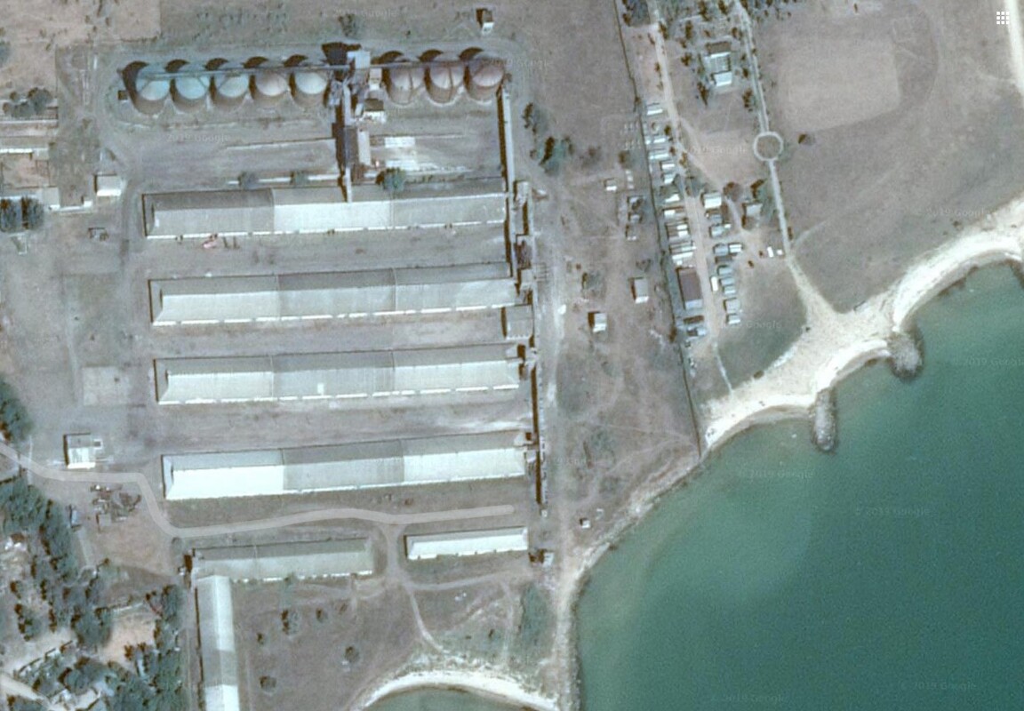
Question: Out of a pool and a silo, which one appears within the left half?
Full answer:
You can see a silo within the left half.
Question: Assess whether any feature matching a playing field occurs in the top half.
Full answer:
Yes, a playing field shows up in the top half.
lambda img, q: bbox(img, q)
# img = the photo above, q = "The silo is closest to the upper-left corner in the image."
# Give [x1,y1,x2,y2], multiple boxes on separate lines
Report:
[135,67,172,114]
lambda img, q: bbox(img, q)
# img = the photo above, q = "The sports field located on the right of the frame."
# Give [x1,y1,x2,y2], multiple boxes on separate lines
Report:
[776,51,897,131]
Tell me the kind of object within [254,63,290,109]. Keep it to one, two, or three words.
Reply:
silo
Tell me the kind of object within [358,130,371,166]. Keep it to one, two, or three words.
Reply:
shed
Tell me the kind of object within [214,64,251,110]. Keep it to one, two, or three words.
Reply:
silo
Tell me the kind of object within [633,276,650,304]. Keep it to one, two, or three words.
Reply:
house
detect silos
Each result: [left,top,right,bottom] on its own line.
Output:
[388,58,425,104]
[175,66,211,112]
[214,64,251,110]
[429,56,465,102]
[293,61,329,107]
[468,54,505,100]
[135,67,172,114]
[254,63,290,109]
